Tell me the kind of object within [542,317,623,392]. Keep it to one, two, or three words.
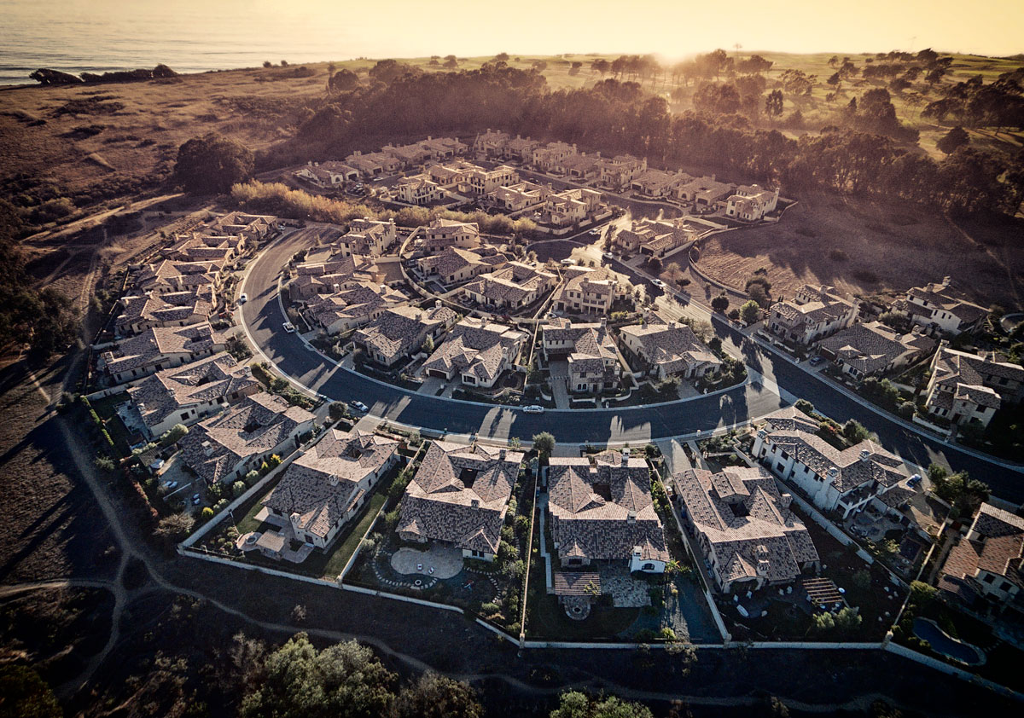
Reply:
house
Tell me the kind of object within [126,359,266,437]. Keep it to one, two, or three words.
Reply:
house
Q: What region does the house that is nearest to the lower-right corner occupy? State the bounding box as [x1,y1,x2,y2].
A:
[931,504,1024,621]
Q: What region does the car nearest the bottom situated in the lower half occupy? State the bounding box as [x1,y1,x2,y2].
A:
[906,474,925,488]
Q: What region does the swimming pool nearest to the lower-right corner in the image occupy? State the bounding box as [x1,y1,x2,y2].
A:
[913,614,987,666]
